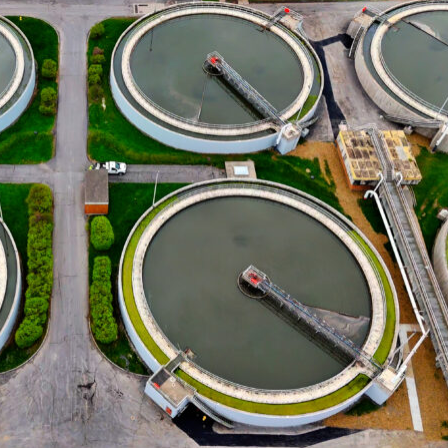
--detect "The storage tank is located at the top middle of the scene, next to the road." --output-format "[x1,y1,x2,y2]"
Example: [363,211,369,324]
[109,3,324,157]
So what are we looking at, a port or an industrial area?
industrial area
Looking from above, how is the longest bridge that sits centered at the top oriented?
diagonally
